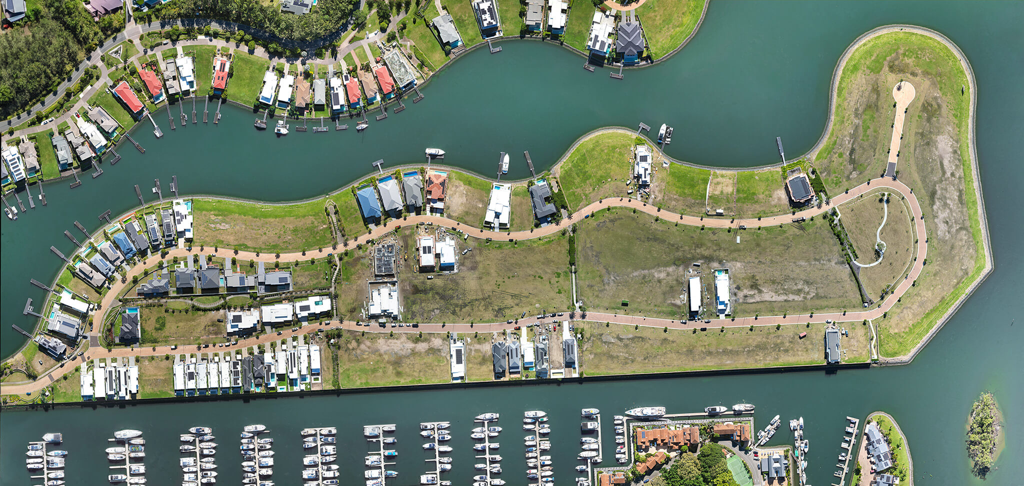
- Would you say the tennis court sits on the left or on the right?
right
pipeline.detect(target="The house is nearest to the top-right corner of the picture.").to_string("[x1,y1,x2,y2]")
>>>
[785,175,817,205]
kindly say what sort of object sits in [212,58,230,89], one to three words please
house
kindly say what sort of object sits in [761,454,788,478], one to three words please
building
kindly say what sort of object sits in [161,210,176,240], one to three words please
house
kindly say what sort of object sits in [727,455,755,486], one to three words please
tennis court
